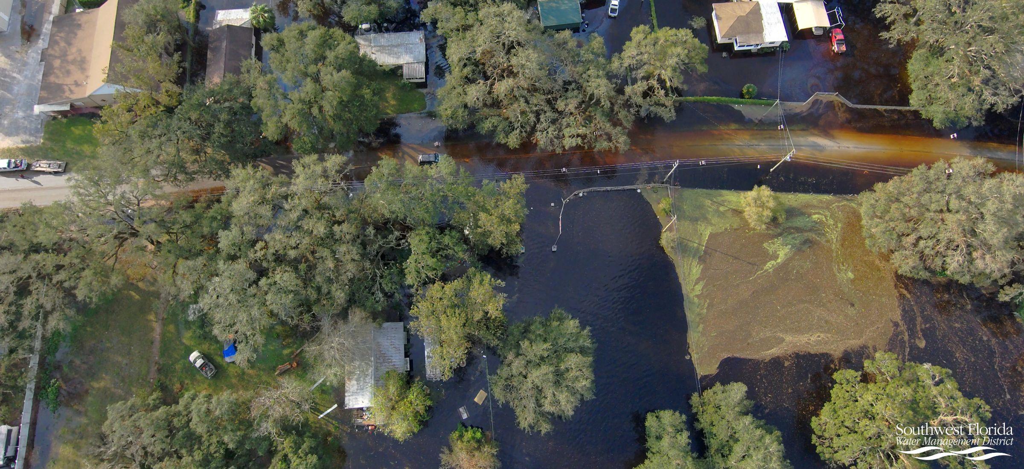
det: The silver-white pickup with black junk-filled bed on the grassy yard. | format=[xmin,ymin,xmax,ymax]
[190,348,218,382]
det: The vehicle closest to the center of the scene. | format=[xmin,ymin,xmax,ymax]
[415,151,441,164]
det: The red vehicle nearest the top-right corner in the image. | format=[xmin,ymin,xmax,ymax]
[830,27,849,57]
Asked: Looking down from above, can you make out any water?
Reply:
Yes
